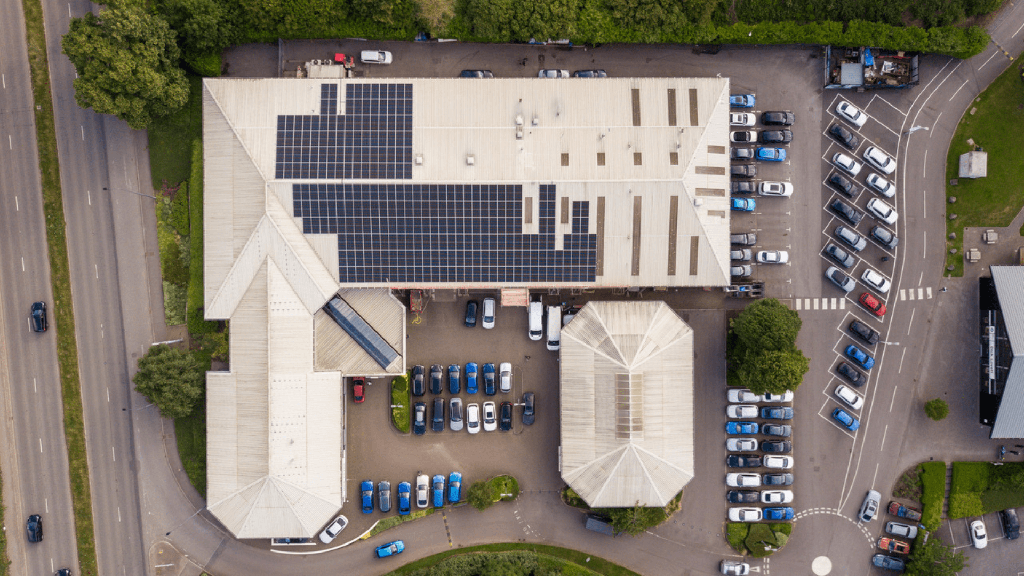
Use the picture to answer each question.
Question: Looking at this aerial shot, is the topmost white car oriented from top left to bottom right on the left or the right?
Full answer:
You can find the topmost white car oriented from top left to bottom right on the right side of the picture.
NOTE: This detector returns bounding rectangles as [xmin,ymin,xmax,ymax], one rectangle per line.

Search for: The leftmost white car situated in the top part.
[360,49,393,65]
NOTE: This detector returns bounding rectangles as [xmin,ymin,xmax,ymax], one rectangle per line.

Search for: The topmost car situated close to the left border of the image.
[29,301,49,332]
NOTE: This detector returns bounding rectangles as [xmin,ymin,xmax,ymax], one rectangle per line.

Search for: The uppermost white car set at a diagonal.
[836,100,868,127]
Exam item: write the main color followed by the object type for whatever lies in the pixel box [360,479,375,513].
blue car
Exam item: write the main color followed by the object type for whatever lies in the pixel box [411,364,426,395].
black car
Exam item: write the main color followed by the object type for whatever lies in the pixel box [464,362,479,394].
blue car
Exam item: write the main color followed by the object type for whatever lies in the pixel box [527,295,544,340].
white vehicle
